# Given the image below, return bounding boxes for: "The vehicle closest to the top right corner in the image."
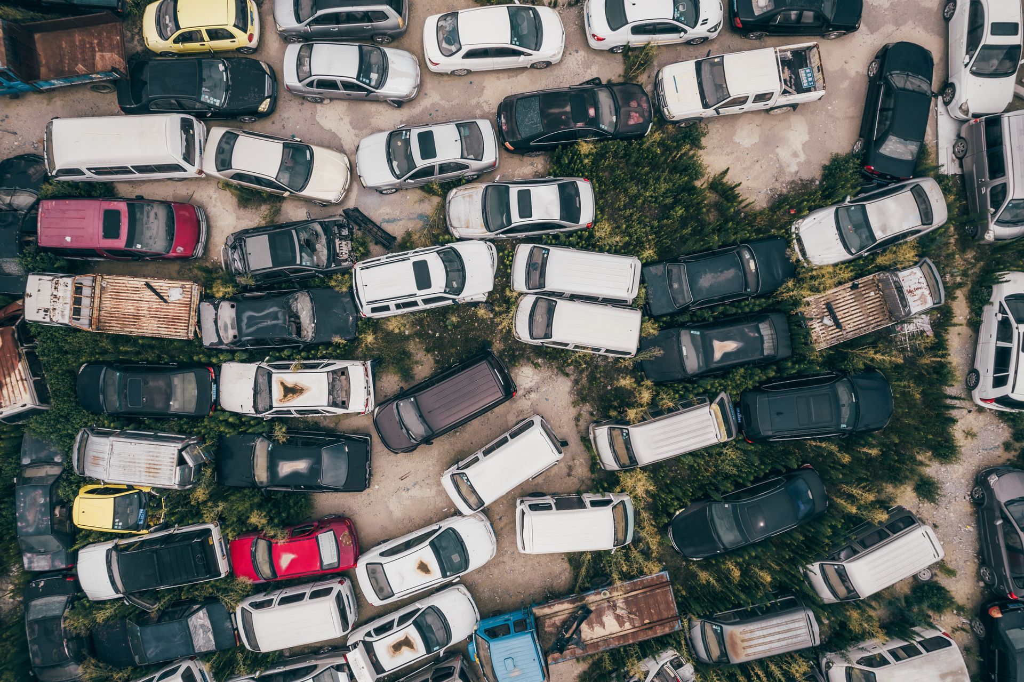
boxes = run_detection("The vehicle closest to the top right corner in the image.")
[940,0,1024,123]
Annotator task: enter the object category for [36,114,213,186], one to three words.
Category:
vehicle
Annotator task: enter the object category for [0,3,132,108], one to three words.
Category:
truck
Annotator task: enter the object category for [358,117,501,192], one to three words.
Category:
car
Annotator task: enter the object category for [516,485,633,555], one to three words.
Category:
van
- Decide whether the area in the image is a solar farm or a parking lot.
parking lot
